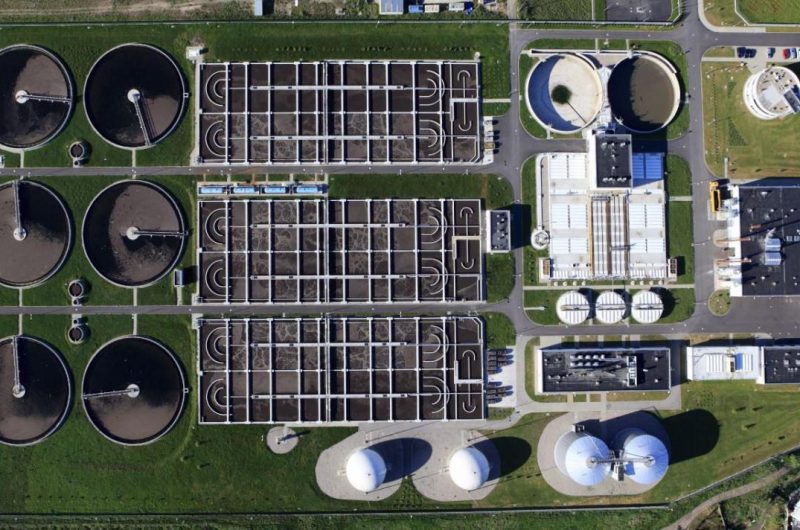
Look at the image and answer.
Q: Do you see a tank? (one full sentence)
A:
Yes, there is a tank in the image.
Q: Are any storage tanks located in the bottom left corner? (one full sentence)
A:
Yes, the scene does show a storage tank in the bottom left corner.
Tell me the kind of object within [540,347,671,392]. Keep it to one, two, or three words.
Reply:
building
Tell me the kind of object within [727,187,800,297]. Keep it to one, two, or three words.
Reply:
building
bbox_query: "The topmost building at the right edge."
[742,68,800,120]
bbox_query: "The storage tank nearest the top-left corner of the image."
[0,45,73,150]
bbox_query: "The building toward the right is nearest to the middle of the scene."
[488,210,511,252]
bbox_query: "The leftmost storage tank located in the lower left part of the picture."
[0,337,71,445]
